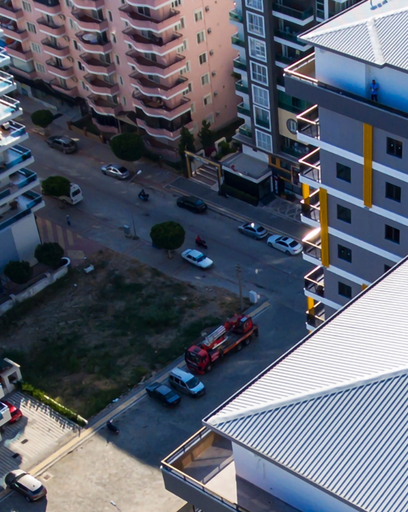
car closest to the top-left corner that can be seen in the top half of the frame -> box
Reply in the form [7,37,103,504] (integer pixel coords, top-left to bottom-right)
[44,135,80,154]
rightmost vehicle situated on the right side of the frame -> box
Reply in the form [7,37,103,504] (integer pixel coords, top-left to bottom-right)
[266,234,302,255]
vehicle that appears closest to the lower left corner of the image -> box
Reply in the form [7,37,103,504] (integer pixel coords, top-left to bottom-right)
[0,471,51,502]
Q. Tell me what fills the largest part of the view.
buildings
